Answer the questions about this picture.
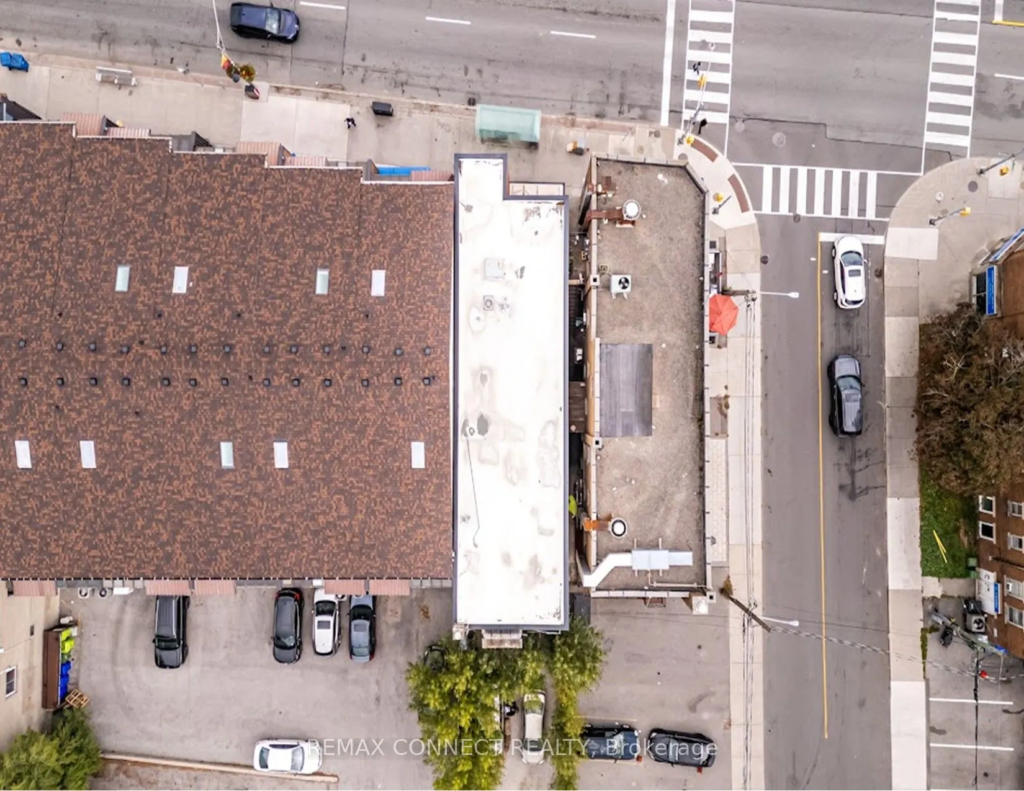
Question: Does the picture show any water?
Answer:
No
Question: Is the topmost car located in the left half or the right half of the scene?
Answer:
left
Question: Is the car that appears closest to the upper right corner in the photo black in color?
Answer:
No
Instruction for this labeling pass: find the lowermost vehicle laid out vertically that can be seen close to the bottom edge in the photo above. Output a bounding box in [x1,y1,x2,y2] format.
[518,689,551,761]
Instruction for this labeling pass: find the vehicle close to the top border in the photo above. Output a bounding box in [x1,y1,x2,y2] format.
[230,4,303,47]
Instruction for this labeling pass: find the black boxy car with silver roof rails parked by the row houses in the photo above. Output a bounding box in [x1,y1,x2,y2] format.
[150,596,193,666]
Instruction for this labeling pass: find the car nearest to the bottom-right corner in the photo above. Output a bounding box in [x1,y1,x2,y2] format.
[646,723,717,768]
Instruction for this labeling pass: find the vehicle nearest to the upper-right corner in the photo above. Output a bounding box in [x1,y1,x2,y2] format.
[827,238,868,310]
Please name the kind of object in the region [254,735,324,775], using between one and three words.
car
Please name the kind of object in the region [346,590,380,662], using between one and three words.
car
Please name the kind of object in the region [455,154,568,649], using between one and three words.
building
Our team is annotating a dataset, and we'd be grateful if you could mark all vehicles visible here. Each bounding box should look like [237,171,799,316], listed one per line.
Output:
[150,596,193,666]
[827,238,868,310]
[646,723,717,768]
[574,720,645,762]
[518,689,551,761]
[270,588,308,662]
[346,590,380,662]
[230,4,303,47]
[308,589,345,657]
[254,735,324,775]
[824,357,867,436]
